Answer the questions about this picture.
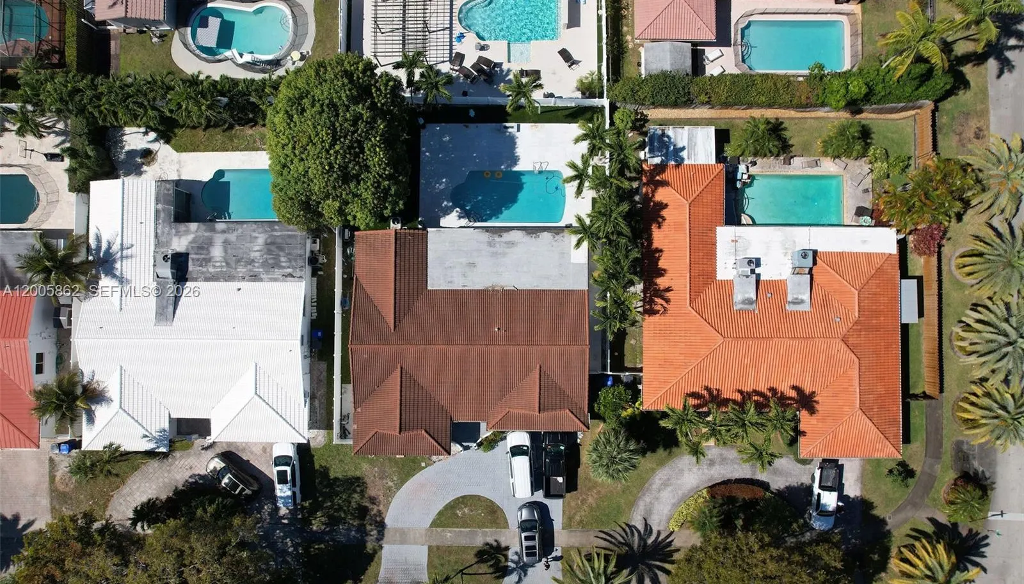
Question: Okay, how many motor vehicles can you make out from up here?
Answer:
6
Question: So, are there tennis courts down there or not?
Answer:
No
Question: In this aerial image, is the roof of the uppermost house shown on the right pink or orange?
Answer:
pink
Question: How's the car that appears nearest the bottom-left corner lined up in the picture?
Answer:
at an angle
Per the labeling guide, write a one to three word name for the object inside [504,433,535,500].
car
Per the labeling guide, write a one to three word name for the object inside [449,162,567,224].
swimming pool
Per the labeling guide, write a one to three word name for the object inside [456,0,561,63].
swimming pool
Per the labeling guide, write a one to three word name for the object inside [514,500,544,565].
car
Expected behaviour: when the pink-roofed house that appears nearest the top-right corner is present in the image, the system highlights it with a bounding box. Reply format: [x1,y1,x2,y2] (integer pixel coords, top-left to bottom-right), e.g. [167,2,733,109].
[634,0,718,44]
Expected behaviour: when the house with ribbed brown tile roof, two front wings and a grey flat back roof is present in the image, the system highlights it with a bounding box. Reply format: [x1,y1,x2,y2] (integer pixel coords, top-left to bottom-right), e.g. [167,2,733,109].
[348,227,591,457]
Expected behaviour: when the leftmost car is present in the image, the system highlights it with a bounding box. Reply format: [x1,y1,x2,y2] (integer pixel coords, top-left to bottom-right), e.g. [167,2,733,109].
[207,457,270,510]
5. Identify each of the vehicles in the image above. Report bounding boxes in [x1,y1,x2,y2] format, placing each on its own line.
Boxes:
[207,457,270,510]
[799,460,842,533]
[269,442,304,508]
[514,500,544,565]
[504,433,535,500]
[540,433,570,501]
